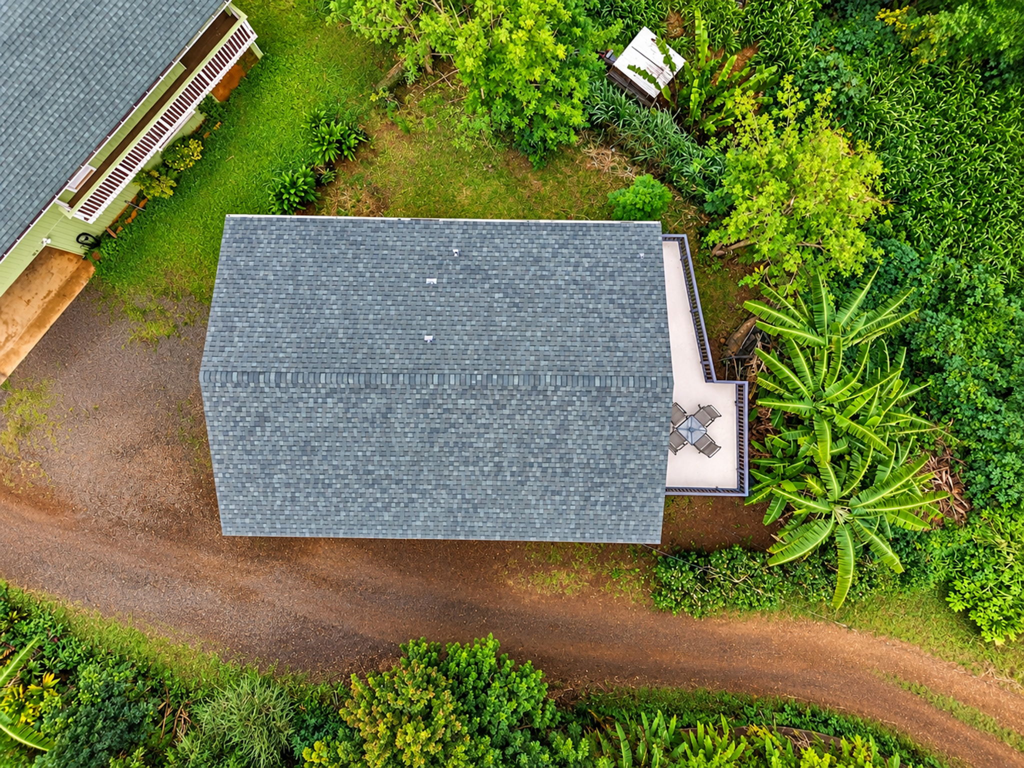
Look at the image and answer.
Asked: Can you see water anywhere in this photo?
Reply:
No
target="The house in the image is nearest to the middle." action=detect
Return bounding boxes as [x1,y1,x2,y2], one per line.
[199,213,751,544]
